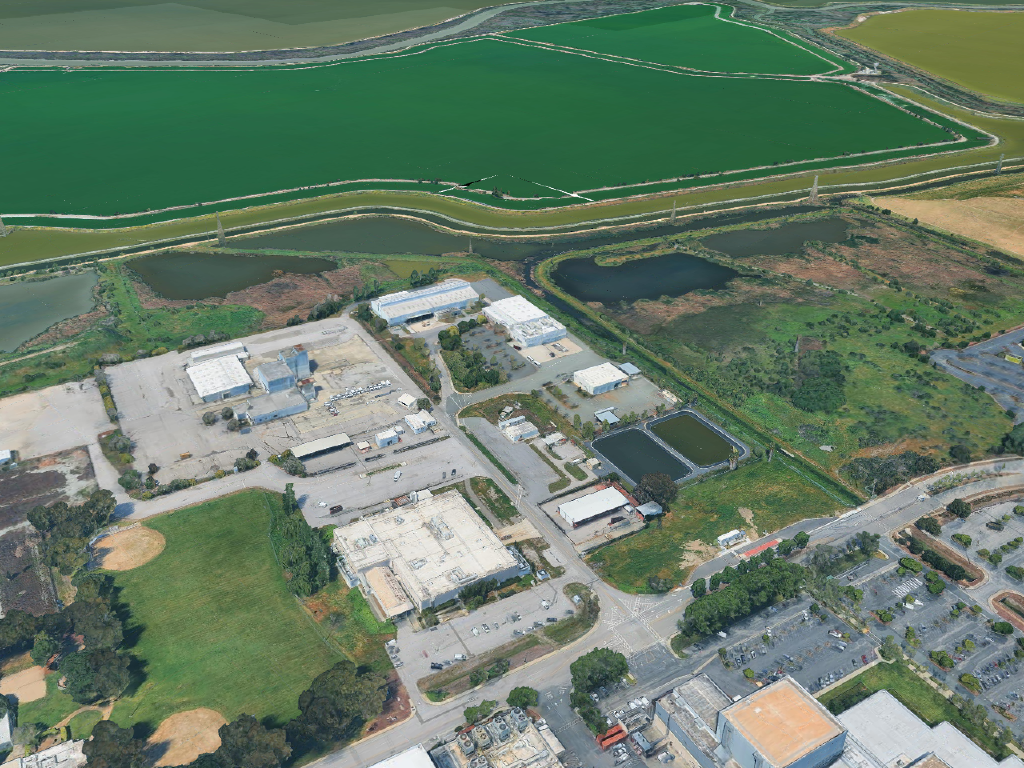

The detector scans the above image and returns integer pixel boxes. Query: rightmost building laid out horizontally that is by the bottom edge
[835,689,1024,768]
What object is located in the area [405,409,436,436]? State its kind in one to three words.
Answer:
house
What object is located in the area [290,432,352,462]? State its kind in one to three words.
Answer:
shed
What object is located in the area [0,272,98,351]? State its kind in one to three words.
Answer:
pond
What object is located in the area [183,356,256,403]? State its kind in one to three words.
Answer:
building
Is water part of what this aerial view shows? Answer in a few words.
Yes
